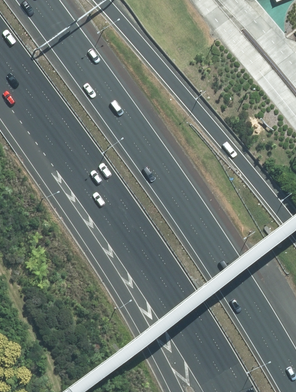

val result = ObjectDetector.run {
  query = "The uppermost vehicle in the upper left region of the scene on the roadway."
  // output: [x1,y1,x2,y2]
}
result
[21,0,34,16]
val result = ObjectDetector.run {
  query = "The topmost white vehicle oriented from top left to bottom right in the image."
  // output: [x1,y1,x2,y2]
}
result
[3,29,16,45]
